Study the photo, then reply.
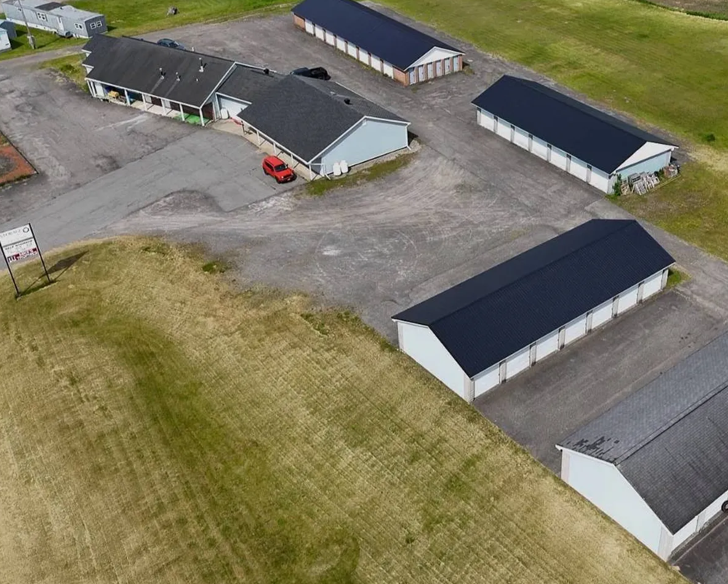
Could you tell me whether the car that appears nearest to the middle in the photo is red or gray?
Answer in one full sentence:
From above, the car that appears nearest to the middle appears red.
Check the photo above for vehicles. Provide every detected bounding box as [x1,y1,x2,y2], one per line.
[288,65,335,81]
[260,154,297,184]
[156,37,188,51]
